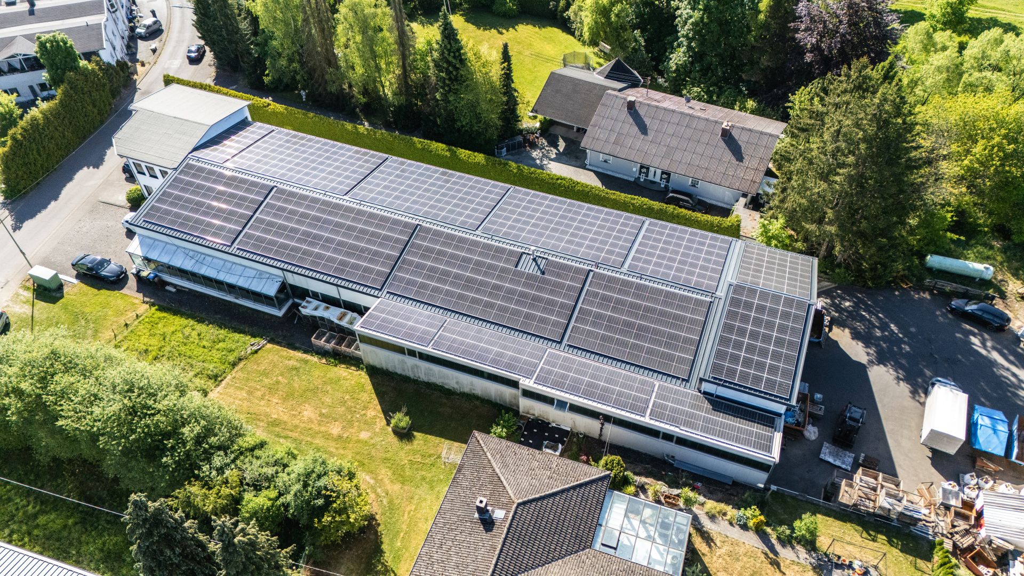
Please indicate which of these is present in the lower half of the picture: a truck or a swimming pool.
truck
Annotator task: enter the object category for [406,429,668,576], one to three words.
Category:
house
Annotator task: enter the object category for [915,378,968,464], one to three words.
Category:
truck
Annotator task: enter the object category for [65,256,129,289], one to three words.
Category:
car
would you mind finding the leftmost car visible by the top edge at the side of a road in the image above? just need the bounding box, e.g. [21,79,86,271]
[129,17,166,42]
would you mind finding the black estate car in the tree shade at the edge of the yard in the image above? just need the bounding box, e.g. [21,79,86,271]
[946,296,1022,335]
